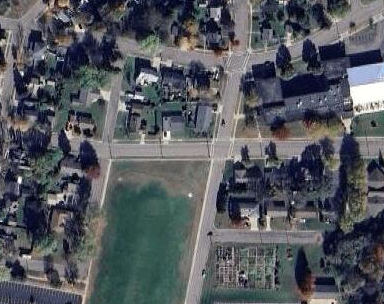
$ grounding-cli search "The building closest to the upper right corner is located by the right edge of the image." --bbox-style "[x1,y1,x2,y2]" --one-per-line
[346,63,384,114]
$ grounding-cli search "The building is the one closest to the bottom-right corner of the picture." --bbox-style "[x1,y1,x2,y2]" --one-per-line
[305,288,339,304]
